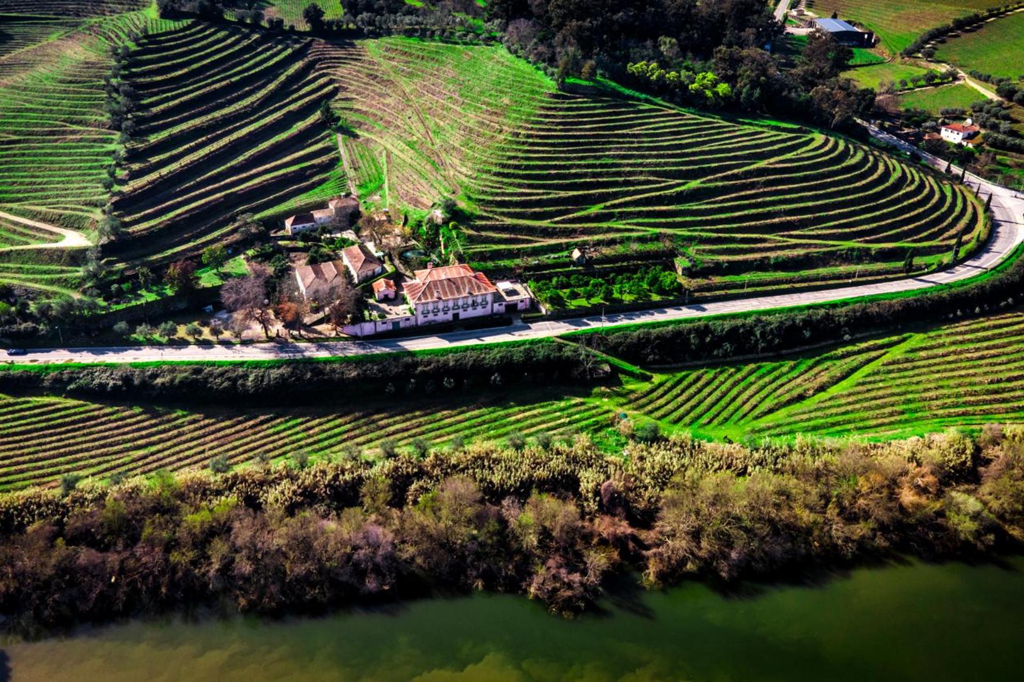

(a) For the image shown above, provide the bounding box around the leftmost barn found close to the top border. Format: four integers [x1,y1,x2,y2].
[823,18,877,47]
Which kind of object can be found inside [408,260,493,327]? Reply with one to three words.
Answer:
house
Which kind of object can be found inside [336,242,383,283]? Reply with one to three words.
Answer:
barn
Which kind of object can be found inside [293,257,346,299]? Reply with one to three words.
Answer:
barn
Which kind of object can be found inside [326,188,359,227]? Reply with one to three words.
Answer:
house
